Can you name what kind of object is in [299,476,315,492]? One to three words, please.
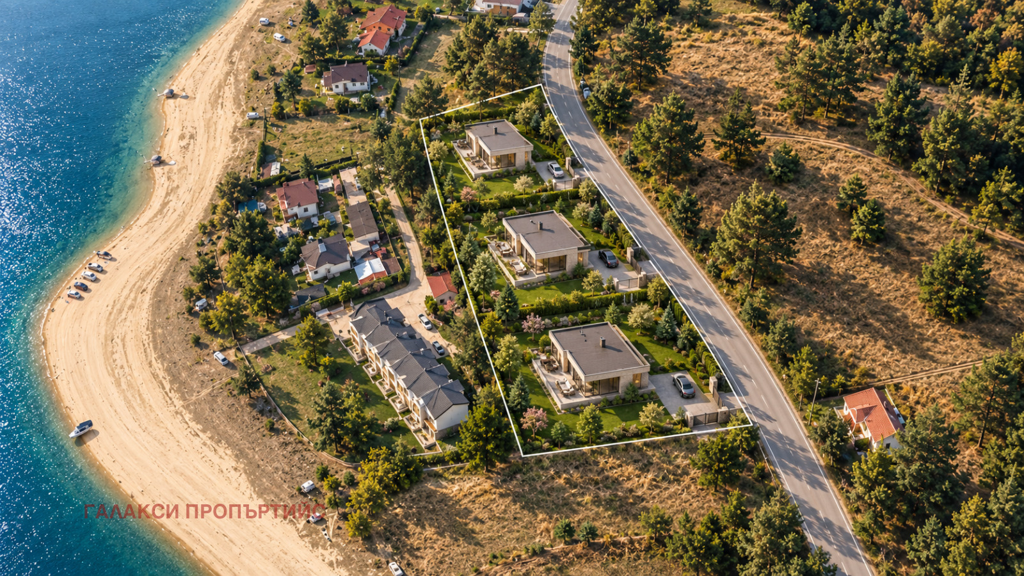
vehicle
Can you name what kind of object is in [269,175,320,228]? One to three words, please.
house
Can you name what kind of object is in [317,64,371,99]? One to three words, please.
house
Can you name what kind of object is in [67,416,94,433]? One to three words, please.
boat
